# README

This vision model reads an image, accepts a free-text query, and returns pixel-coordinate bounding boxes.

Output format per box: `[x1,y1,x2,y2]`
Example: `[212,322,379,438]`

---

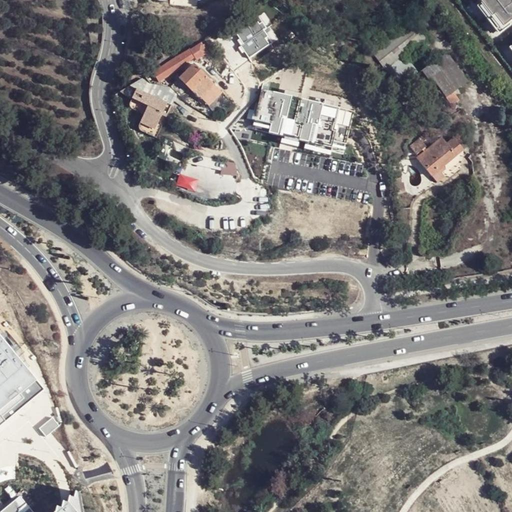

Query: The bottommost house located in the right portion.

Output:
[410,136,468,182]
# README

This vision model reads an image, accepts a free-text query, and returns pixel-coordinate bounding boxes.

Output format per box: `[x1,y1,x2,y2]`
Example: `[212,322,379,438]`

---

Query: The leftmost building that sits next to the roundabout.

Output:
[0,334,42,424]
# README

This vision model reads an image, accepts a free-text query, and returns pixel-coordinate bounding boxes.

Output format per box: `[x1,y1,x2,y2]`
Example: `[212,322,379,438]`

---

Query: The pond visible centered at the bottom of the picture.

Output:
[239,418,297,494]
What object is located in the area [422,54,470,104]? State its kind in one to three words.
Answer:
barn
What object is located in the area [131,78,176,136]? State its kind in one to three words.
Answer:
house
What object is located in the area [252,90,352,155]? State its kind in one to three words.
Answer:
building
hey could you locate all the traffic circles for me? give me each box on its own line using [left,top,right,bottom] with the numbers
[66,292,230,452]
